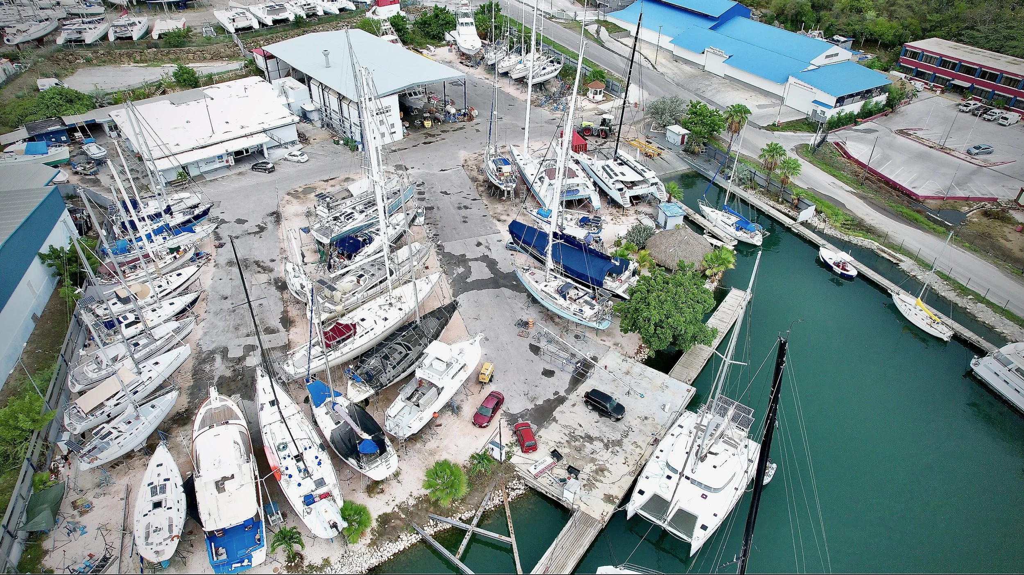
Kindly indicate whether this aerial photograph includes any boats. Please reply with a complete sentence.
Yes, the image includes a boat.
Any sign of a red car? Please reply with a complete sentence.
Yes, the frame does contain a red car.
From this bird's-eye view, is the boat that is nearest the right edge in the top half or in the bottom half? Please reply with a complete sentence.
You can find the boat that is nearest the right edge in the bottom half.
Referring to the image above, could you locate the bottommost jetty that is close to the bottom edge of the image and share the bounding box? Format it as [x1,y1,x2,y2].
[528,509,607,575]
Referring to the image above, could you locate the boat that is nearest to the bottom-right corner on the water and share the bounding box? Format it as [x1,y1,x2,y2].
[970,357,1024,423]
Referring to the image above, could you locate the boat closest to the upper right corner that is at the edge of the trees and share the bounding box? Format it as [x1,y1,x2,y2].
[832,31,850,46]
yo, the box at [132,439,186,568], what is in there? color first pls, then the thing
white boat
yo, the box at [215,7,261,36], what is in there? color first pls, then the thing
white boat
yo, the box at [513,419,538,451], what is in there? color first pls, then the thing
red car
